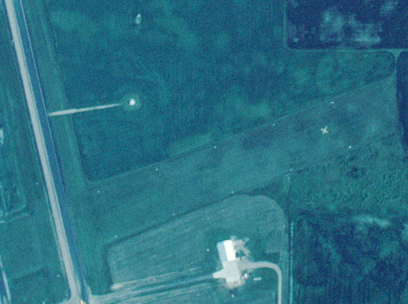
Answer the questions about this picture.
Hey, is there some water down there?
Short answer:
No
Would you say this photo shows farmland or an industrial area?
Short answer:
farmland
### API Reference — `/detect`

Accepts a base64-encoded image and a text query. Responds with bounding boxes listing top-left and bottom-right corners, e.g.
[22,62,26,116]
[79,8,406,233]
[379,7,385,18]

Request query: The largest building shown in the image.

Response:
[217,241,236,263]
